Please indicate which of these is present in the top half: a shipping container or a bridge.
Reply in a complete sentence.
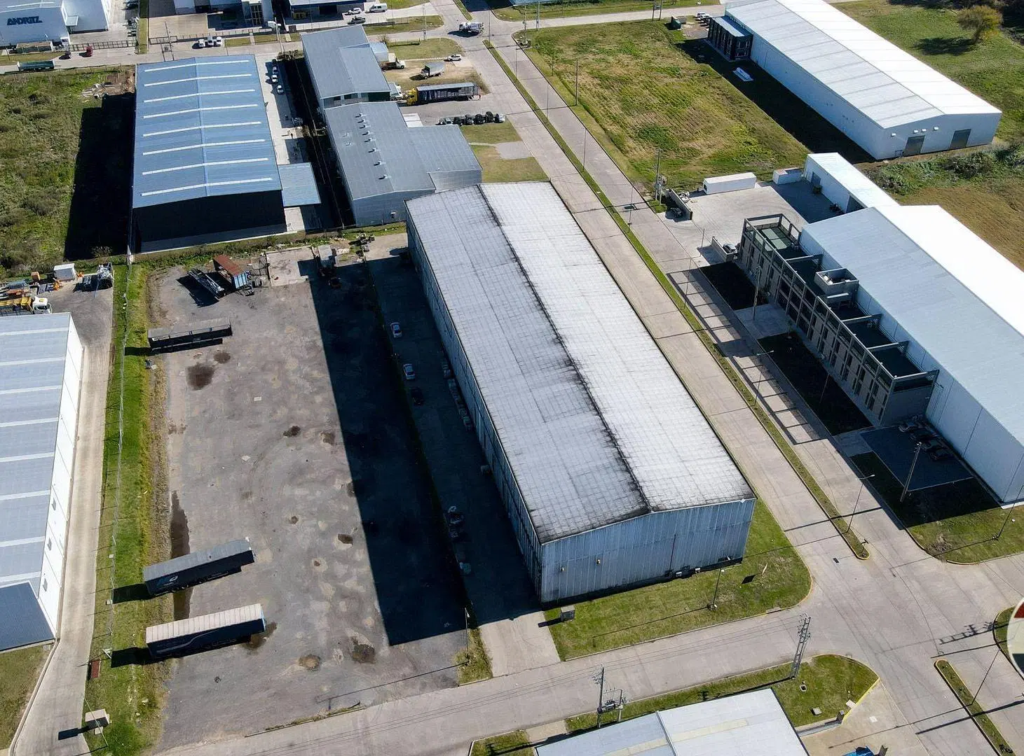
Looking in the top half, you will find a shipping container.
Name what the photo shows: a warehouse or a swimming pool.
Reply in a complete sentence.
Of the two, only a warehouse appears.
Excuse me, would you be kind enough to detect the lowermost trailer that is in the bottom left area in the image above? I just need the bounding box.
[145,604,268,662]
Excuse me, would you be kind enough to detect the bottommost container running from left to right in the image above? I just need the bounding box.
[703,167,760,195]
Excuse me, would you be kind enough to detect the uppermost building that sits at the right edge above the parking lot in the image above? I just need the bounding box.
[681,0,1002,157]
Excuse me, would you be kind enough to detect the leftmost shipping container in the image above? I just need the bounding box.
[215,261,248,292]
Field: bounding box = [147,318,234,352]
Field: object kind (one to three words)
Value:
trailer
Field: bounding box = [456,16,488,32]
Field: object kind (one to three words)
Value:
vehicle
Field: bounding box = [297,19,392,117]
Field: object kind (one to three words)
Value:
building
